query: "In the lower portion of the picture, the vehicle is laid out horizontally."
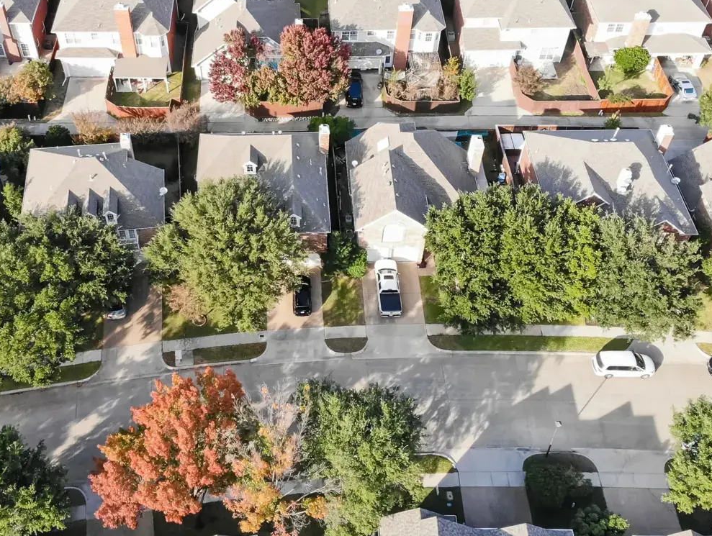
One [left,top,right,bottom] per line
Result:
[592,347,659,379]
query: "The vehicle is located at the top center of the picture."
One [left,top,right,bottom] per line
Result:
[345,80,364,108]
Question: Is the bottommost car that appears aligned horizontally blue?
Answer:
No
